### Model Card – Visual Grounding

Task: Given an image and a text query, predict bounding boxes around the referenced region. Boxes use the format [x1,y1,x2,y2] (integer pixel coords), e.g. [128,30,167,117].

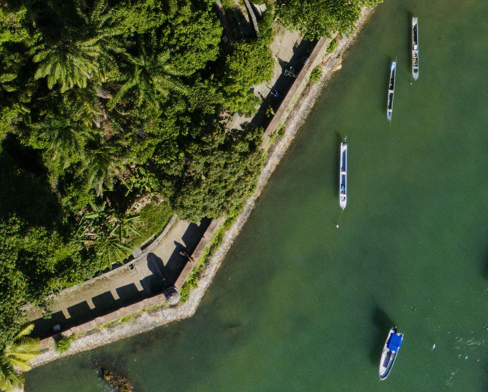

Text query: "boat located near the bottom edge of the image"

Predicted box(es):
[377,327,406,381]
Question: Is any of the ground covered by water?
Yes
